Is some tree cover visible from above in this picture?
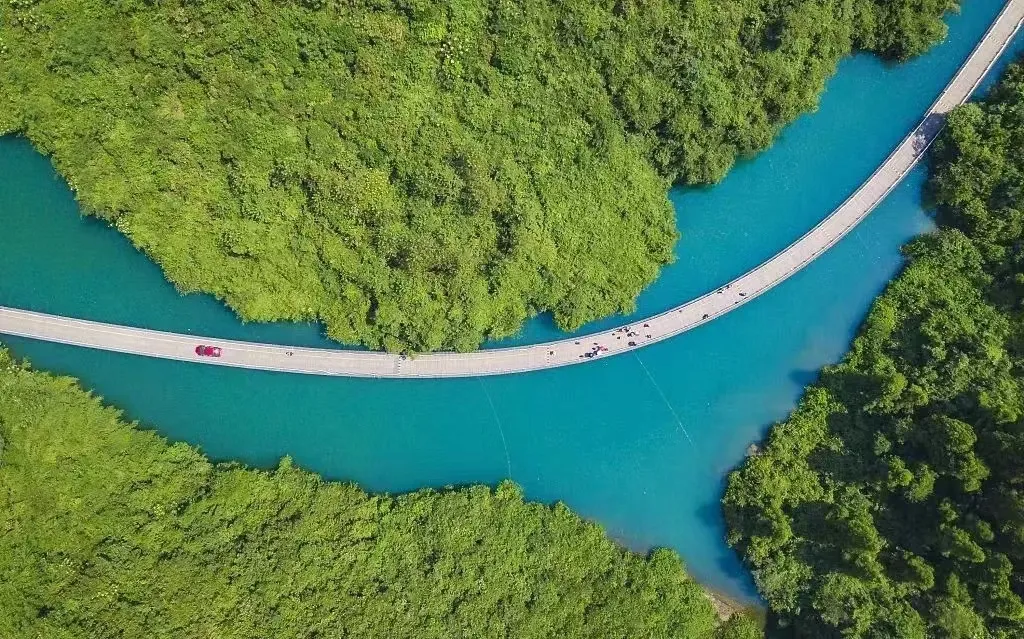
Yes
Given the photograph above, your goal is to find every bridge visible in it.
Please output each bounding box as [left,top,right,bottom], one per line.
[0,0,1024,378]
